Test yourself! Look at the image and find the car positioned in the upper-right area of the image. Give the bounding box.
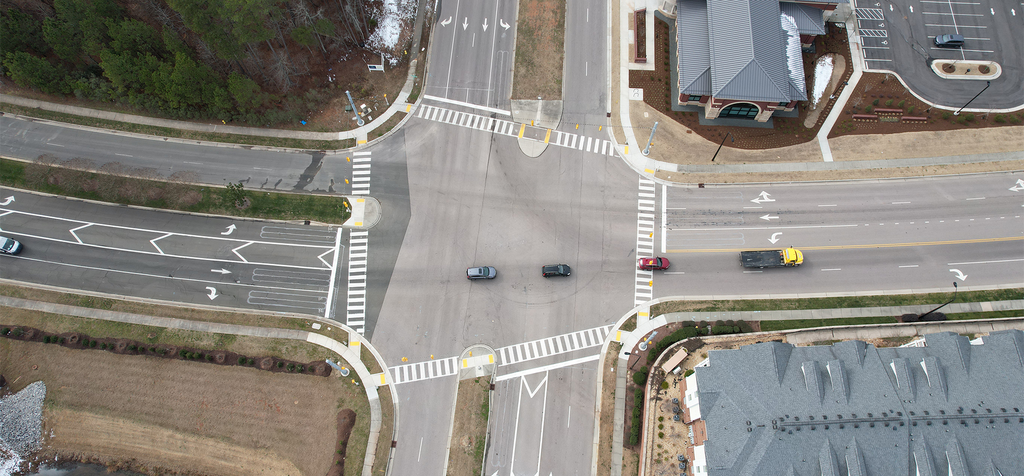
[934,32,966,47]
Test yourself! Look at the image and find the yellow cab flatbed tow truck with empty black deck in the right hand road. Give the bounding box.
[731,246,808,269]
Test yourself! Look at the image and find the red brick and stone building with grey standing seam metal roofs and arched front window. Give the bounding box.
[676,0,852,120]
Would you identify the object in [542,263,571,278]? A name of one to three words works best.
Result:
car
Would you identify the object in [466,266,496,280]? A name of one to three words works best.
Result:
car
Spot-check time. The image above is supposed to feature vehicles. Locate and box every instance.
[638,256,669,271]
[542,263,571,278]
[0,236,22,254]
[466,266,496,280]
[934,32,966,47]
[731,246,808,269]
